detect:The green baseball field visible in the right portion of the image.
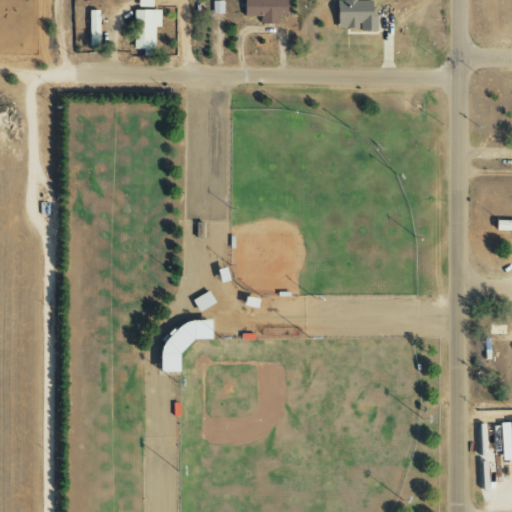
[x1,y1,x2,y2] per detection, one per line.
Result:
[231,109,416,296]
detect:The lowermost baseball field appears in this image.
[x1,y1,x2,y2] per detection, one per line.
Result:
[181,339,440,512]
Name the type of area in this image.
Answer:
sports ground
